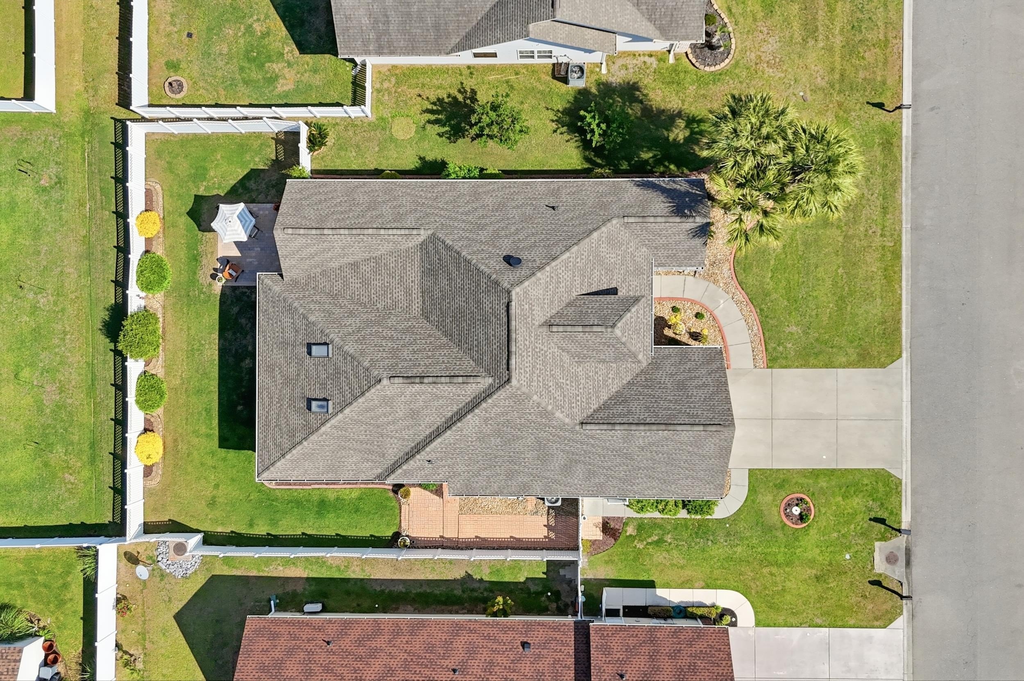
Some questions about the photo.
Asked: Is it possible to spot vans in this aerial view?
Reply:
No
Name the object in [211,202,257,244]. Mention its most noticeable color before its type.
white umbrella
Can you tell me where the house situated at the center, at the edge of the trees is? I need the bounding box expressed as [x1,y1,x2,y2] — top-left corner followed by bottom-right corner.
[254,177,738,501]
